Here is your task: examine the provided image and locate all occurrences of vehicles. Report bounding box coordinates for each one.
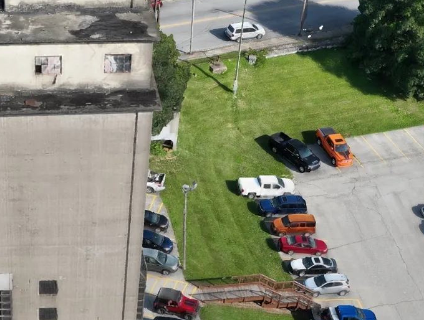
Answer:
[271,214,317,236]
[286,256,339,276]
[143,231,173,255]
[273,137,315,168]
[152,286,201,320]
[258,194,308,216]
[239,176,294,196]
[144,211,169,234]
[277,236,327,255]
[147,176,167,194]
[146,0,160,7]
[301,273,352,297]
[319,132,349,165]
[147,251,180,276]
[308,306,375,320]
